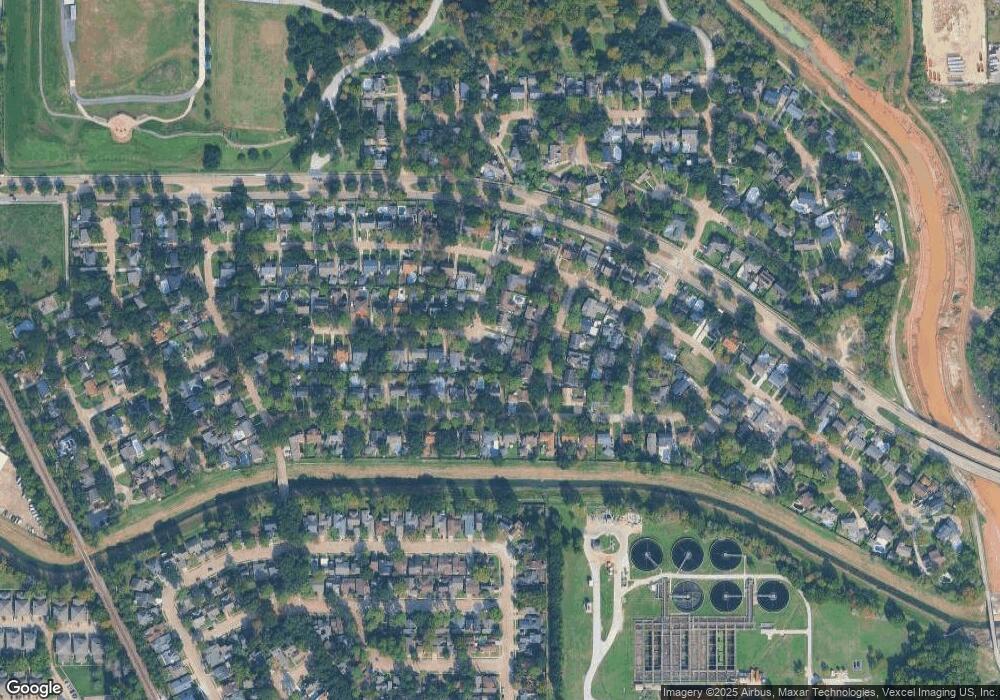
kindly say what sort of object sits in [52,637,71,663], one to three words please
house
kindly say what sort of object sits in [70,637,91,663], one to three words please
house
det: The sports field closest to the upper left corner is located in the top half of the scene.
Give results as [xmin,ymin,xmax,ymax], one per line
[75,0,195,97]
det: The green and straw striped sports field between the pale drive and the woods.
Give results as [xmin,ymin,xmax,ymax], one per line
[211,3,285,128]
